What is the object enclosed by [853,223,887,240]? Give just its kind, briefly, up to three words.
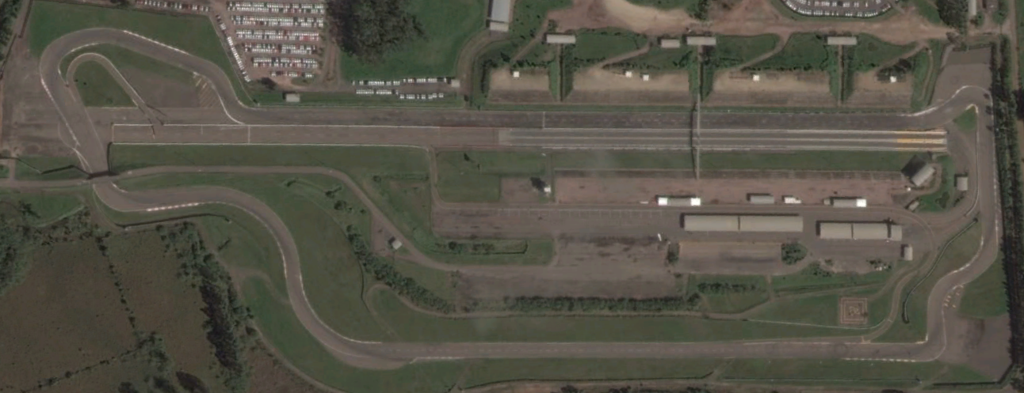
building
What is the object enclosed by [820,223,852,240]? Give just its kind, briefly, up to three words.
building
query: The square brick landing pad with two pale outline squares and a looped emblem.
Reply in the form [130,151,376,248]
[840,298,868,325]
